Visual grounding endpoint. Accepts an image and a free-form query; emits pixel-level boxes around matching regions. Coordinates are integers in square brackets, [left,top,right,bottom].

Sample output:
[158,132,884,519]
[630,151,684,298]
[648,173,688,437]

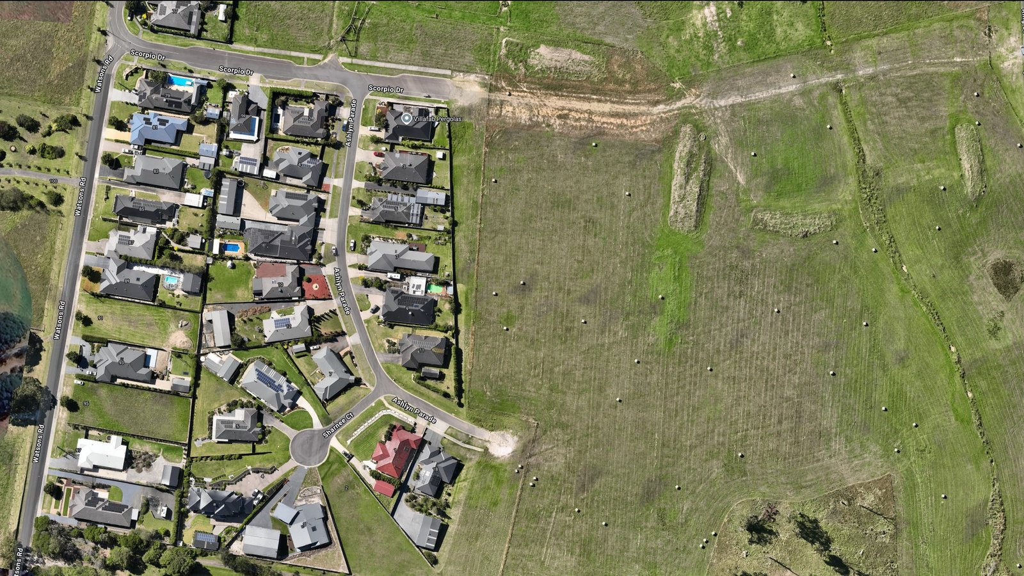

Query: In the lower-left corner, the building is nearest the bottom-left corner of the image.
[66,487,139,527]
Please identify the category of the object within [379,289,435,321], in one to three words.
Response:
house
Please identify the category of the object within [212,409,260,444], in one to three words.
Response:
house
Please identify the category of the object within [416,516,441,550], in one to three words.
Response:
shed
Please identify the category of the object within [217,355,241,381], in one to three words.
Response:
shed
